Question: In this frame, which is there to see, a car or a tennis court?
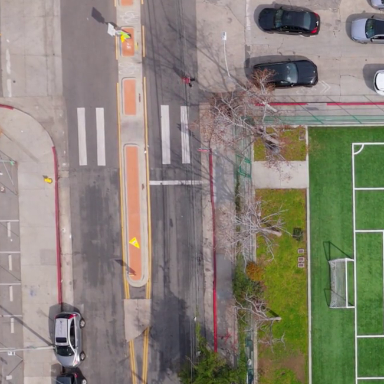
car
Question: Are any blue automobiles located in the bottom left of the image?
No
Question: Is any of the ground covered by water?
No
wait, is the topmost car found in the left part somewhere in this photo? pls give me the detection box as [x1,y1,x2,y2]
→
[52,312,87,367]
